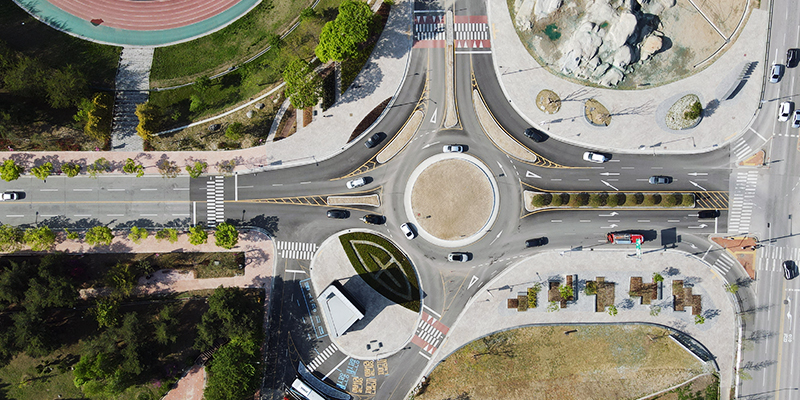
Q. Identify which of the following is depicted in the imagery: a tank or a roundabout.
roundabout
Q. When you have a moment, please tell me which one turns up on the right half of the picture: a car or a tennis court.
car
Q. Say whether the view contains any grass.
Yes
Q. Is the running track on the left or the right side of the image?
left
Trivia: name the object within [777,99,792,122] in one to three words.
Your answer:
car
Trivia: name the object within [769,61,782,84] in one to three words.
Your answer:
vehicle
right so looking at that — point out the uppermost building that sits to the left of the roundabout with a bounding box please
[317,280,366,337]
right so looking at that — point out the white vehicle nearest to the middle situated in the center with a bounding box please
[399,220,416,241]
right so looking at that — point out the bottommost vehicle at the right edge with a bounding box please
[781,259,797,281]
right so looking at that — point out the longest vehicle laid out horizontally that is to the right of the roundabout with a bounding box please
[606,233,647,247]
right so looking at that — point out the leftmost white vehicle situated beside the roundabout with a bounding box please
[344,176,366,190]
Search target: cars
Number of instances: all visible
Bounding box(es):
[791,108,800,130]
[344,176,366,190]
[362,213,386,224]
[523,236,548,248]
[781,259,797,281]
[326,209,350,220]
[446,252,467,262]
[399,220,416,241]
[784,46,800,70]
[582,151,605,162]
[0,191,20,202]
[777,99,792,122]
[441,143,463,154]
[769,61,782,84]
[362,130,384,149]
[521,125,545,142]
[695,209,720,220]
[647,175,672,186]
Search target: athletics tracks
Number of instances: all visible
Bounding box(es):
[12,0,262,48]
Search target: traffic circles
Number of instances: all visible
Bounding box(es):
[362,86,563,316]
